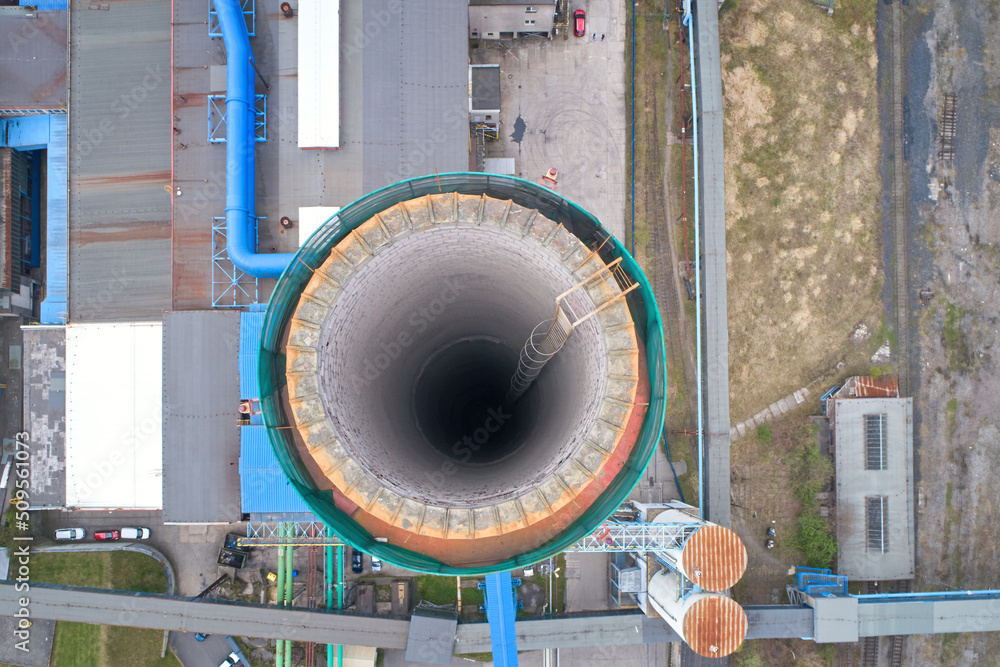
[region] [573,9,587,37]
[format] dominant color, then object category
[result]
red vehicle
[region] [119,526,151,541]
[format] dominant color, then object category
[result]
white vehicle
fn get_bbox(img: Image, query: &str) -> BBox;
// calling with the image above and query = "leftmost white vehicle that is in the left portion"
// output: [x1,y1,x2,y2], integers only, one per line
[54,527,86,542]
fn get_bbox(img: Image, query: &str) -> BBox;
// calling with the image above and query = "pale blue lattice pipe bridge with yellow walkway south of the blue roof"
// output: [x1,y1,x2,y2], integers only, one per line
[237,521,345,547]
